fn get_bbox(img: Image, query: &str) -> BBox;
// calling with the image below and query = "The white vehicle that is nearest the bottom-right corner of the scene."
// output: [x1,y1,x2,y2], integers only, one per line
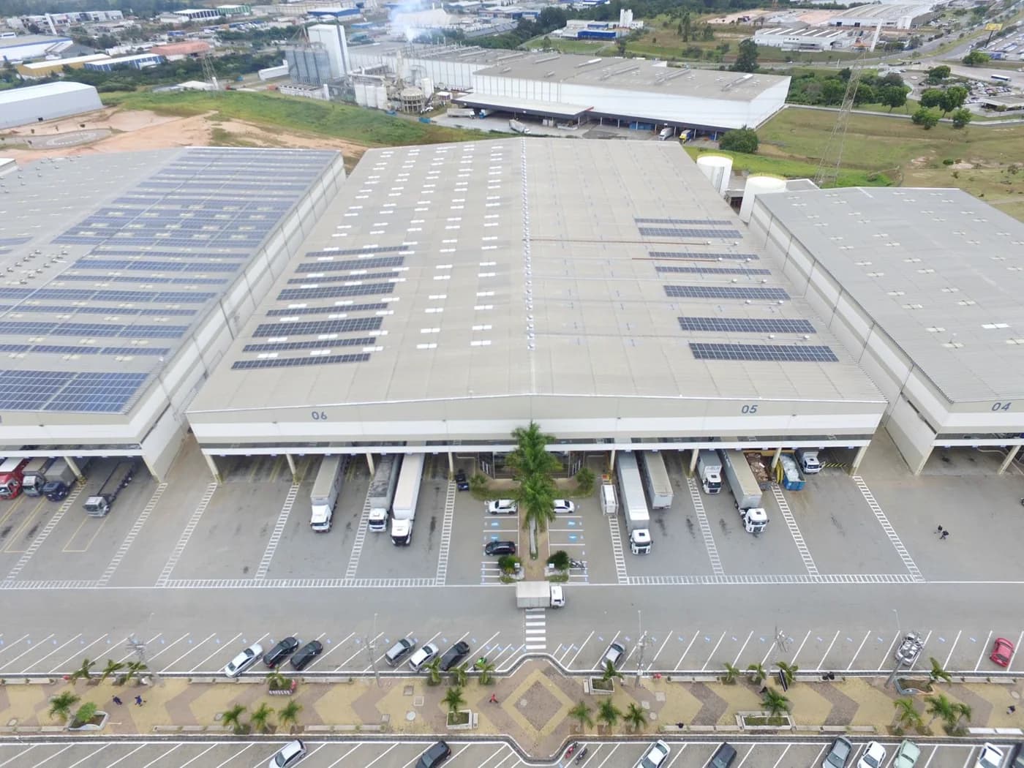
[982,741,1008,768]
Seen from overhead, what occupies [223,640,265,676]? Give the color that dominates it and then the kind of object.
white car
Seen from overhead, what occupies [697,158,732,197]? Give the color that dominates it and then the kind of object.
white storage tank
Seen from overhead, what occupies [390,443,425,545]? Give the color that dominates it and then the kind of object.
white truck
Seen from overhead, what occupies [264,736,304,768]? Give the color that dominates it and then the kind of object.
white car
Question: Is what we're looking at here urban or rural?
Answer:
urban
